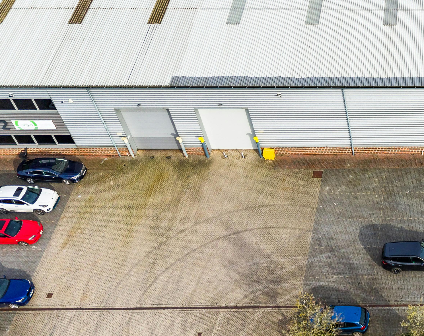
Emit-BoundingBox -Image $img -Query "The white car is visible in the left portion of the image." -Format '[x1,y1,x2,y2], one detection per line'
[0,182,62,214]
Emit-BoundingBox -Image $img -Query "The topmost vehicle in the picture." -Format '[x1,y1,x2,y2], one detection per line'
[16,154,89,183]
